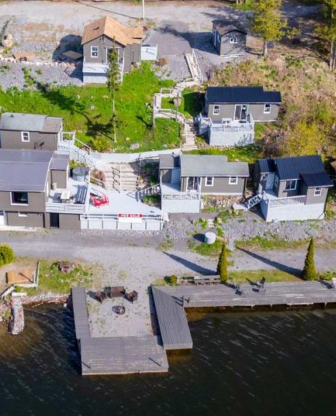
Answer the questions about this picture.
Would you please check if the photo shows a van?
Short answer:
No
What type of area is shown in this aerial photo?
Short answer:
residential area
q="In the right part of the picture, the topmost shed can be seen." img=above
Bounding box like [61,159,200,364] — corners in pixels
[216,14,253,55]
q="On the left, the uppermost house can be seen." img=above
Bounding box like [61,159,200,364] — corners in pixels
[80,19,157,86]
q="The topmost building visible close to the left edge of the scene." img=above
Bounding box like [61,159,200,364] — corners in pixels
[0,110,102,156]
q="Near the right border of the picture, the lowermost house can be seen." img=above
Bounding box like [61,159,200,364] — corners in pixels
[233,142,336,223]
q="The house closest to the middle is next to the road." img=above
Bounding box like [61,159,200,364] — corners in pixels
[138,143,250,215]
